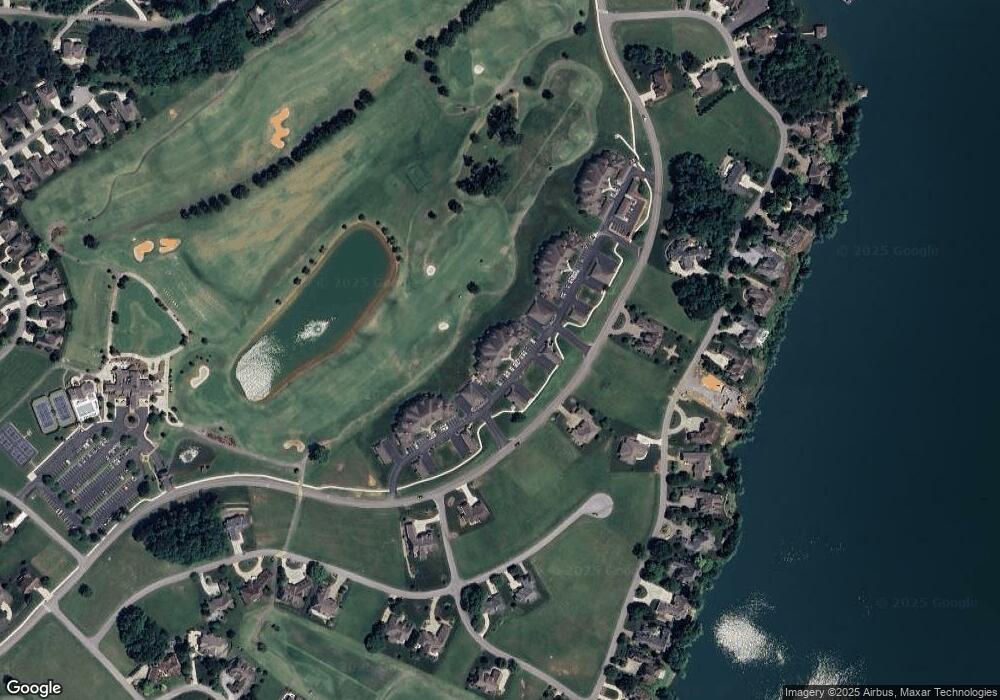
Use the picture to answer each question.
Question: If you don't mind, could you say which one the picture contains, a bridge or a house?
house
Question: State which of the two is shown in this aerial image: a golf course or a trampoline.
golf course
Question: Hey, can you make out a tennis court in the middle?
No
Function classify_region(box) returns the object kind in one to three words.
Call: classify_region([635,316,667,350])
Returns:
house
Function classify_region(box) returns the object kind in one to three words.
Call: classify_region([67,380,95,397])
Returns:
building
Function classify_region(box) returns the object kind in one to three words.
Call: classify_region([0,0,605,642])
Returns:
golf course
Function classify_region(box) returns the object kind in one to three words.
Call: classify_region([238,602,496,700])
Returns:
golf course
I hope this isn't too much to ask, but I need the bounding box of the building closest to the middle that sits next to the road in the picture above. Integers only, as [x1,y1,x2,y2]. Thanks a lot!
[475,317,533,386]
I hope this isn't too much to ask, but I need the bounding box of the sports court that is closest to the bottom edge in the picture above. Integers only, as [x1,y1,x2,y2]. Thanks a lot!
[0,422,38,467]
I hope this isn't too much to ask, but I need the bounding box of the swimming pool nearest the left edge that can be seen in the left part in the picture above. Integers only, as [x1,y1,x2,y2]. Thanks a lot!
[76,400,96,416]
